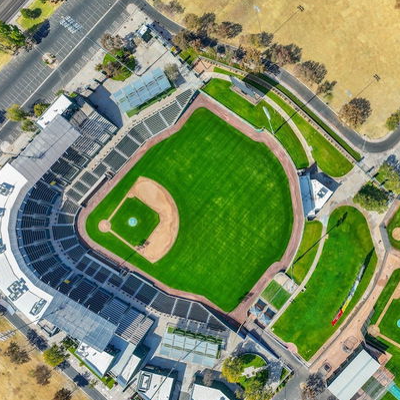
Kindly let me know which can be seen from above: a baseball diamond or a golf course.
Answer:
baseball diamond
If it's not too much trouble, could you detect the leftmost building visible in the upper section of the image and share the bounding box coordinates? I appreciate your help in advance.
[37,95,95,129]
